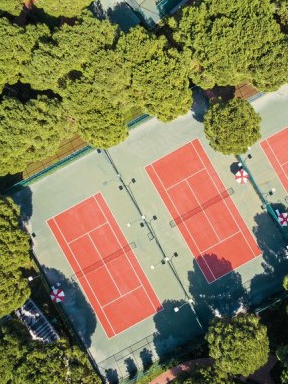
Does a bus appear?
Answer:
No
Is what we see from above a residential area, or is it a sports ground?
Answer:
sports ground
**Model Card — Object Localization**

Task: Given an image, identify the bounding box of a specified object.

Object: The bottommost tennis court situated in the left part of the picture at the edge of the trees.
[6,146,204,384]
